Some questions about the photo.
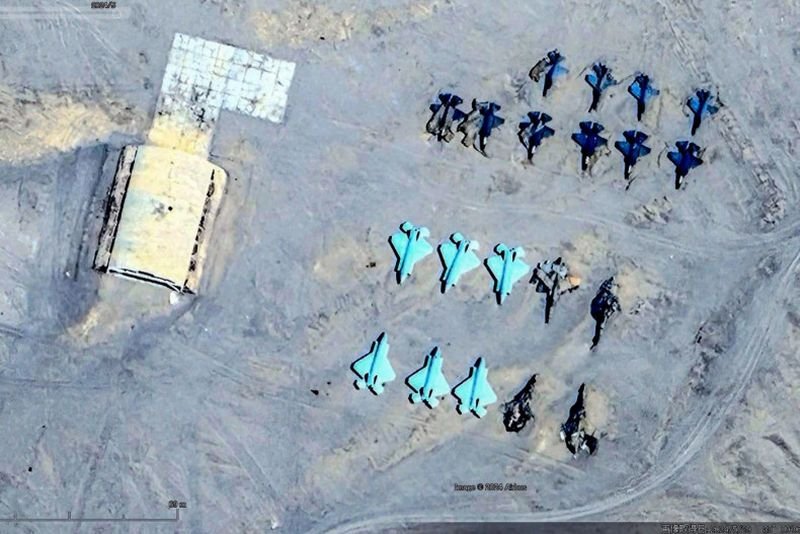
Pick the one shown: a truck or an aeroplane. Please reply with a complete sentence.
The image shows an aeroplane.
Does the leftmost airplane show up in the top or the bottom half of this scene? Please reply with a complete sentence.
It is in the bottom half that the leftmost airplane appears.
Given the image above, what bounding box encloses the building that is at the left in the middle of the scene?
[92,144,227,294]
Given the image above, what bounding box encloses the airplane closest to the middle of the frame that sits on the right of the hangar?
[392,221,434,282]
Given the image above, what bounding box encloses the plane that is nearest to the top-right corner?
[684,87,723,134]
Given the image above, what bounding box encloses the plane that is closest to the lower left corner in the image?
[352,333,395,393]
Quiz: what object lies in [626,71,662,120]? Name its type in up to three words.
airplane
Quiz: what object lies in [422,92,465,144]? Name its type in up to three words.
airplane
